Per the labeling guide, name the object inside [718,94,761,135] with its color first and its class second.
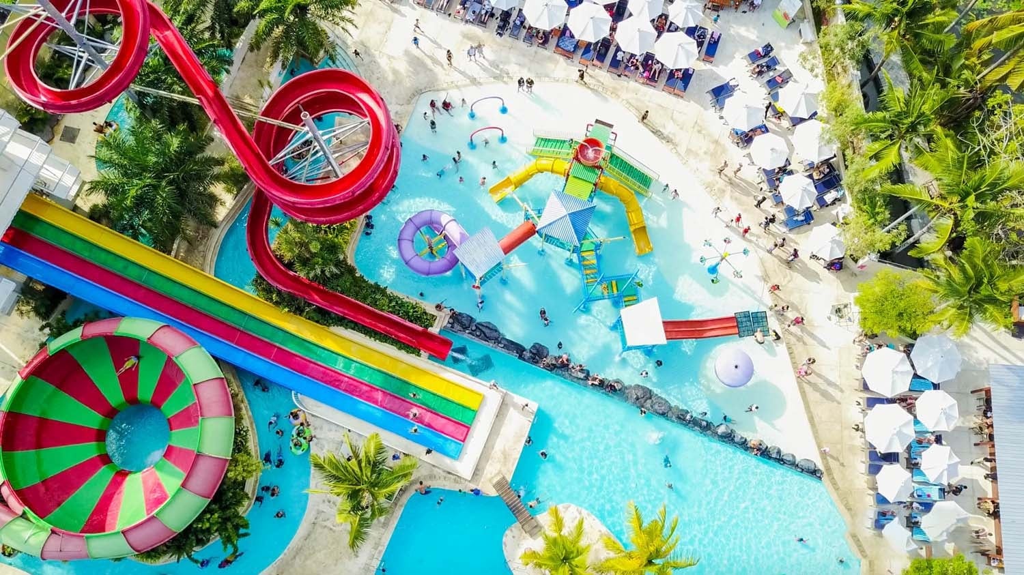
white umbrella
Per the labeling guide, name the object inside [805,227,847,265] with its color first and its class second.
white umbrella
